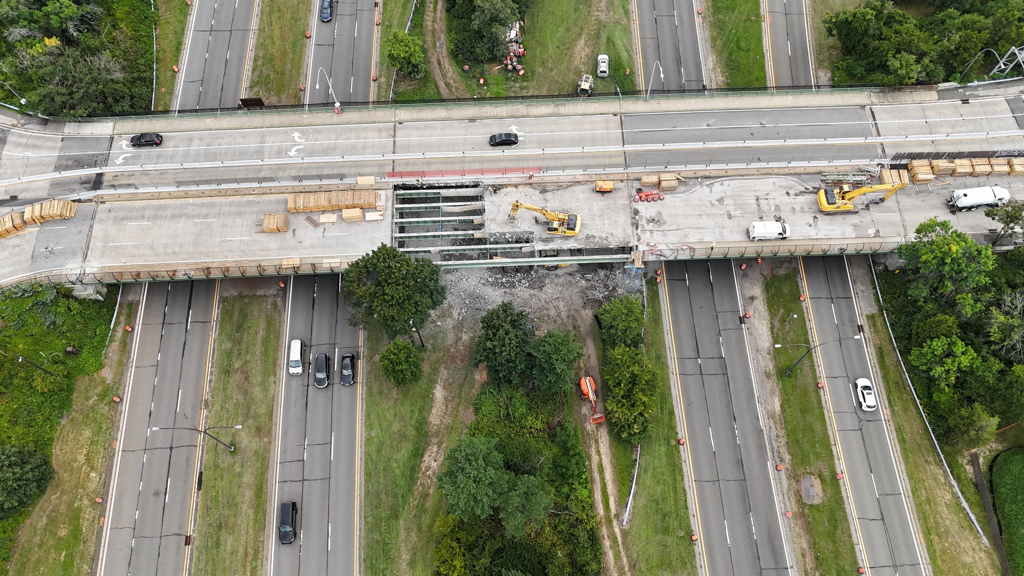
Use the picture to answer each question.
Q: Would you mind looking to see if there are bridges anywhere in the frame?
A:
Yes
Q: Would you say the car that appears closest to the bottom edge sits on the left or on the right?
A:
left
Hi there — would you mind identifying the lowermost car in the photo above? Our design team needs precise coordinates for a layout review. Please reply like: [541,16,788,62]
[277,501,298,544]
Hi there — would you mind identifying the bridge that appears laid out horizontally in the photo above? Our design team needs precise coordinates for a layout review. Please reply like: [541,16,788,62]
[75,93,909,297]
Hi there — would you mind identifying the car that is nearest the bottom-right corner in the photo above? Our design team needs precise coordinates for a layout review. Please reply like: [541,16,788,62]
[854,378,876,412]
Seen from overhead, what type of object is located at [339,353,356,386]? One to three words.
car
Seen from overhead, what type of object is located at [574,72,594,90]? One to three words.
work vehicle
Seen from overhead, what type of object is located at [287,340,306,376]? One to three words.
car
